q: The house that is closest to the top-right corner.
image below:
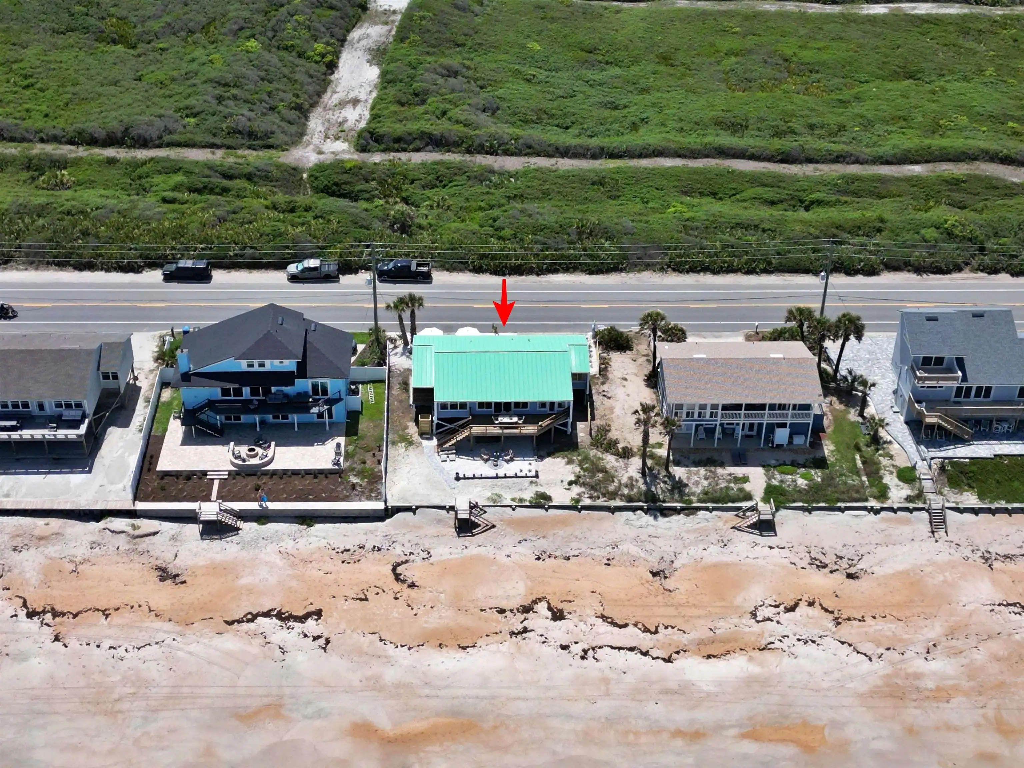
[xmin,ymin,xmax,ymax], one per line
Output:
[891,311,1024,441]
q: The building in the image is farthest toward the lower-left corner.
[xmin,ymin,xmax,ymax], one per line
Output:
[0,334,138,456]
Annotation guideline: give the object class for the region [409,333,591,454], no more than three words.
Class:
house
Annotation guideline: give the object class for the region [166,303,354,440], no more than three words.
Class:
house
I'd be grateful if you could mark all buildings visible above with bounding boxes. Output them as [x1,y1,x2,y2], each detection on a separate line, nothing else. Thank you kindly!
[166,303,354,440]
[409,333,591,454]
[0,334,138,456]
[891,311,1024,441]
[649,342,829,447]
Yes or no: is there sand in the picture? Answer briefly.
Yes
